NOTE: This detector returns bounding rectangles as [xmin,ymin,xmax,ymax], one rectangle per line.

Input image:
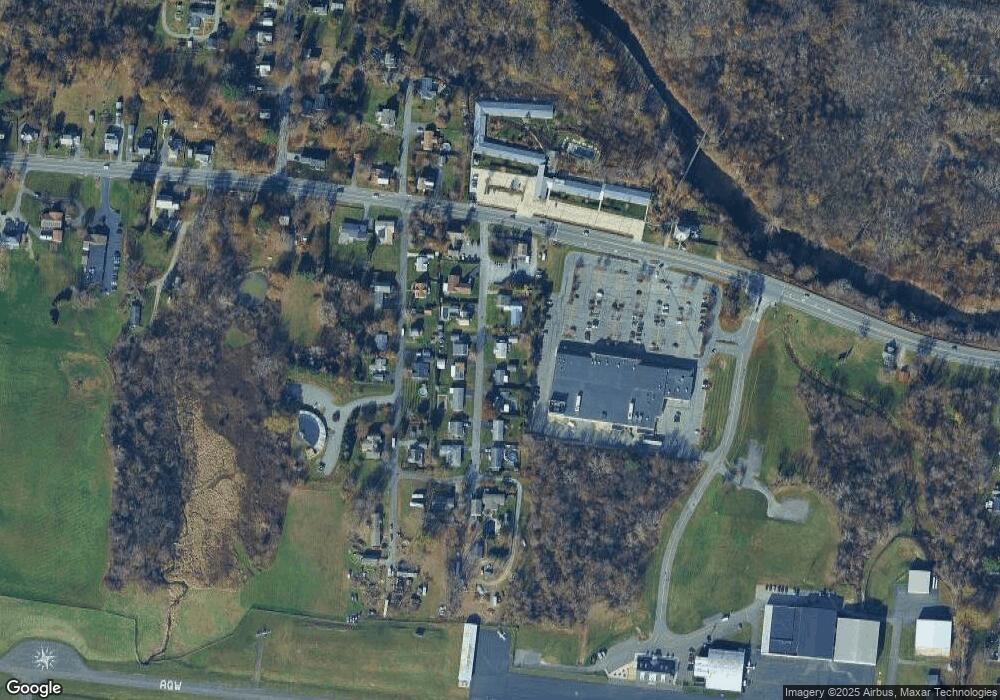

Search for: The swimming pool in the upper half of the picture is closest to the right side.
[571,144,595,159]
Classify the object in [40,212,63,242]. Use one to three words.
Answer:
house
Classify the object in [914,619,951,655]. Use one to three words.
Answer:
hangar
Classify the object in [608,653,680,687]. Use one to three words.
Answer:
building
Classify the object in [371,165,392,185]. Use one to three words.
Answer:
house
